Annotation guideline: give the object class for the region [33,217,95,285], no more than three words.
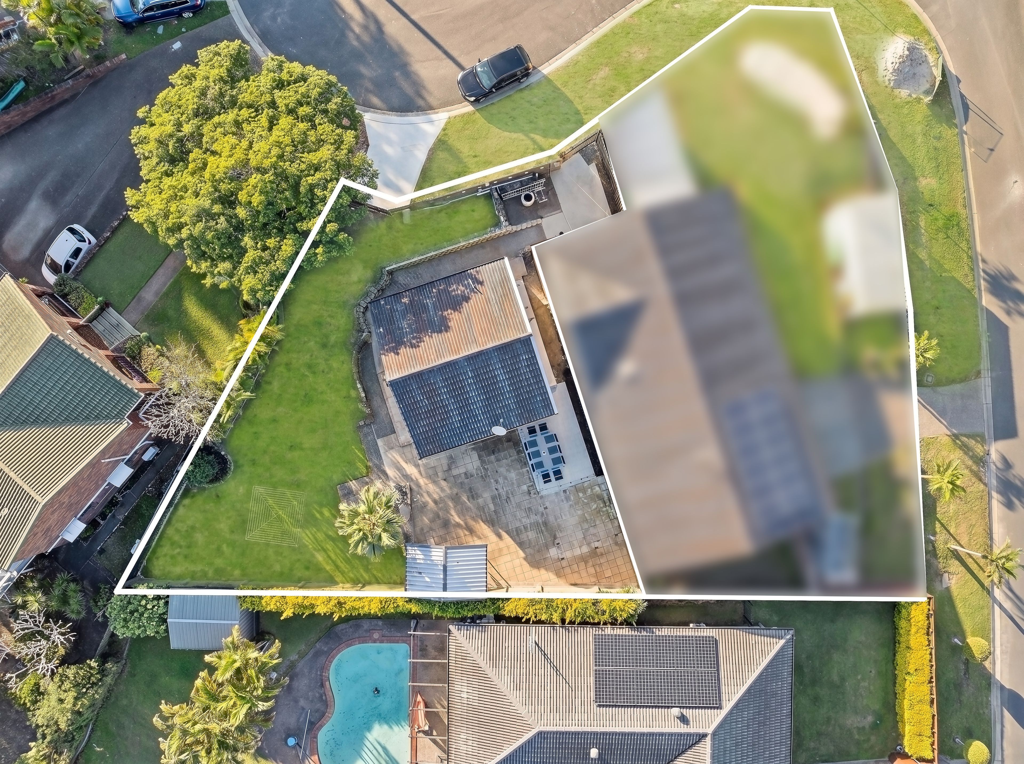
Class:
car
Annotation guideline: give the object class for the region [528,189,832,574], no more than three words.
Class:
house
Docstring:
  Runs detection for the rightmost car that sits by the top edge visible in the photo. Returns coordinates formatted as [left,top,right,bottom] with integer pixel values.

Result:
[455,38,537,100]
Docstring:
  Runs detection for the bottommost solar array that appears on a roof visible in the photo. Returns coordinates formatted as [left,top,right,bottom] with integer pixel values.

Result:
[595,633,726,705]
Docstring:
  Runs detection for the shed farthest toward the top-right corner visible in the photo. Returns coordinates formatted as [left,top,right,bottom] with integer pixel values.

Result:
[799,197,910,326]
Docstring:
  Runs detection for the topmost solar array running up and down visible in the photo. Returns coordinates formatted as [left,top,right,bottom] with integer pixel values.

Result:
[728,386,821,545]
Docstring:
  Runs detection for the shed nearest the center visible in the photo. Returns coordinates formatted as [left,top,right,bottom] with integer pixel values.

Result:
[368,255,561,461]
